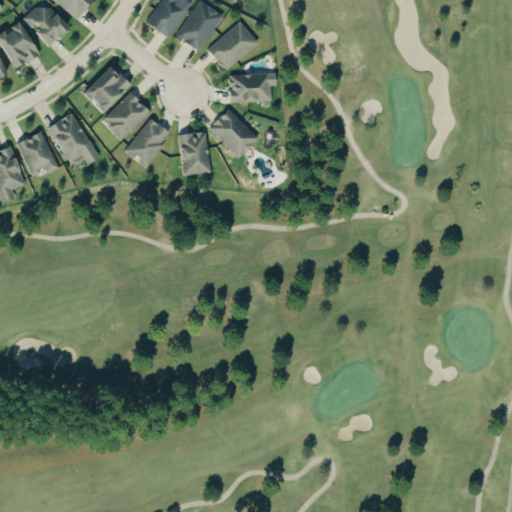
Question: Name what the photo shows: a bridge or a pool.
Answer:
pool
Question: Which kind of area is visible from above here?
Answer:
golf course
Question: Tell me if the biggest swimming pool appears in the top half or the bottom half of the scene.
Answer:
top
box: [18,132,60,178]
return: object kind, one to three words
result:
house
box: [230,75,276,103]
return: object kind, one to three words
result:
house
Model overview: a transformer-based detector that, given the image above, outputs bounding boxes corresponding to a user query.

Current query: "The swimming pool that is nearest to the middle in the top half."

[247,149,286,188]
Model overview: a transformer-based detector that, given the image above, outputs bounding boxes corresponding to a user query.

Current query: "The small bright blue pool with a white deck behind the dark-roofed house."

[244,54,276,73]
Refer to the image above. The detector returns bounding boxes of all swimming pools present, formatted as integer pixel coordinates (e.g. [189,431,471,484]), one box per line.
[247,149,286,188]
[244,54,276,73]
